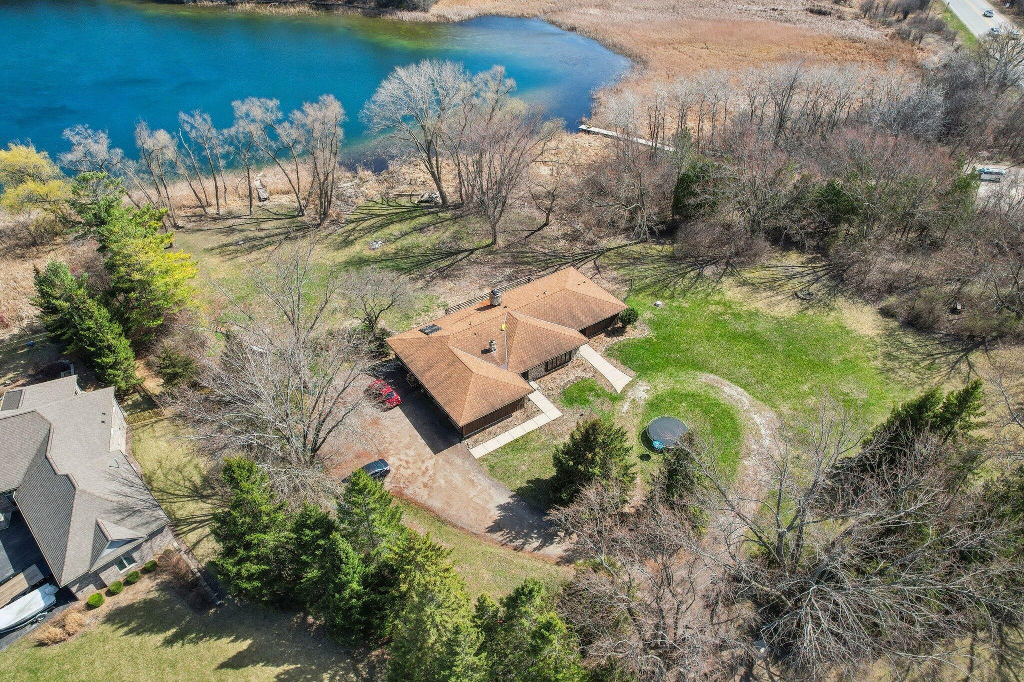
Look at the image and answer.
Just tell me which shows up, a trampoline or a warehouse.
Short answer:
trampoline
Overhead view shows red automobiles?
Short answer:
Yes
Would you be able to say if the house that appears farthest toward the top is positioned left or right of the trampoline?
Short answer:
left of it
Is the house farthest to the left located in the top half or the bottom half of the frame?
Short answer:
bottom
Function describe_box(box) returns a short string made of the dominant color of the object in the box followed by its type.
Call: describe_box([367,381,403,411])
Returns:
red car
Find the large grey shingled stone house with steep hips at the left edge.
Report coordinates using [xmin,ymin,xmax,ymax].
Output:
[0,375,174,600]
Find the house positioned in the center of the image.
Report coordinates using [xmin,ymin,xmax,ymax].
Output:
[384,266,629,440]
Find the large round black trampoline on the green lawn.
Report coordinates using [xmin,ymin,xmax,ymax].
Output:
[646,417,687,453]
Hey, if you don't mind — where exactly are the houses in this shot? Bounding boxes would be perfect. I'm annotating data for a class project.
[384,266,629,440]
[0,375,174,600]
